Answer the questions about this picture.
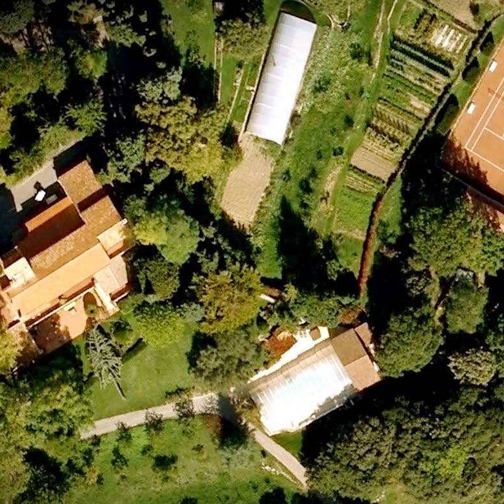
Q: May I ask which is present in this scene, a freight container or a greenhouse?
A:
greenhouse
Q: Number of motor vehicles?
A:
none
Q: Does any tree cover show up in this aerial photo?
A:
Yes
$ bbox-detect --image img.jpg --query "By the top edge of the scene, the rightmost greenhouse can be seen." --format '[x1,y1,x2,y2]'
[244,11,319,144]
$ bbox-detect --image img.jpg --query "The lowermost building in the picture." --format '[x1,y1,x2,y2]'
[247,323,381,436]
